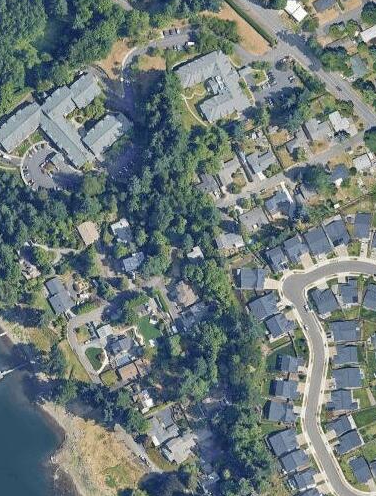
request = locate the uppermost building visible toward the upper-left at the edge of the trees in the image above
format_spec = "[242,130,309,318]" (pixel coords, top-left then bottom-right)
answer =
[0,71,125,170]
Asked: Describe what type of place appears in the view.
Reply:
residential area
